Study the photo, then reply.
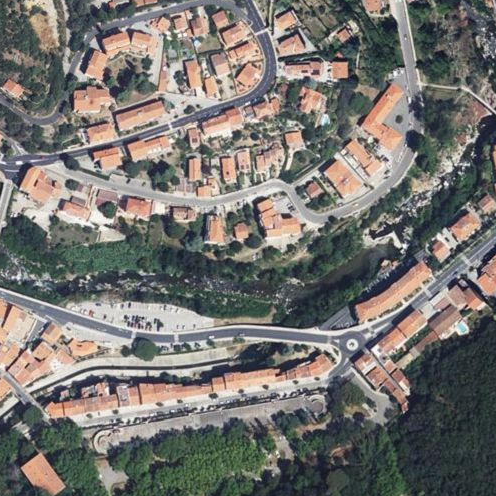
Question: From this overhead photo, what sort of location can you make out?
residential area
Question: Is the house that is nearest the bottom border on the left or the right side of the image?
left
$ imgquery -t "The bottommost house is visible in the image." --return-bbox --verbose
[21,454,66,496]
